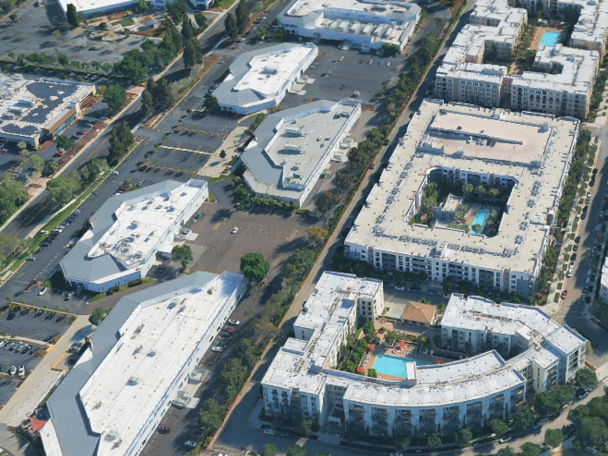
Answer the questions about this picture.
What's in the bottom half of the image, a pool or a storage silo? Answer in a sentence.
You can see a pool in the bottom half of the image.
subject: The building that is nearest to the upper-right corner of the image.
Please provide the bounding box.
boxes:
[436,0,608,119]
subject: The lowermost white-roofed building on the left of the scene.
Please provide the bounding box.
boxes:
[40,270,248,456]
